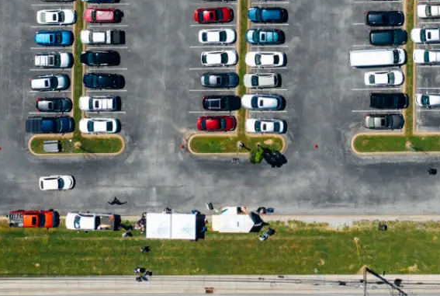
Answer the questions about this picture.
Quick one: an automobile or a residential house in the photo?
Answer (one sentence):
The image shows an automobile.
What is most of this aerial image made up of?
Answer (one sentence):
What you mostly see from above here is paved ground.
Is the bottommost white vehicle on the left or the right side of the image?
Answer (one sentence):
You can find the bottommost white vehicle on the left side of the picture.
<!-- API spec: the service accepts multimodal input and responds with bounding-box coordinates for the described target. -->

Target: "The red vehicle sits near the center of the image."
[198,115,236,133]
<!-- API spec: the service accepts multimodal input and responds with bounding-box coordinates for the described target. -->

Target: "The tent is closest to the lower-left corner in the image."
[146,209,173,240]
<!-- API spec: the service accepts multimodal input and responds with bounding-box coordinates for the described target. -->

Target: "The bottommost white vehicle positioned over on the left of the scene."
[67,213,121,233]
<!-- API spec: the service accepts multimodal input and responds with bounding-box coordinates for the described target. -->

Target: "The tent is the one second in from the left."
[172,209,198,240]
